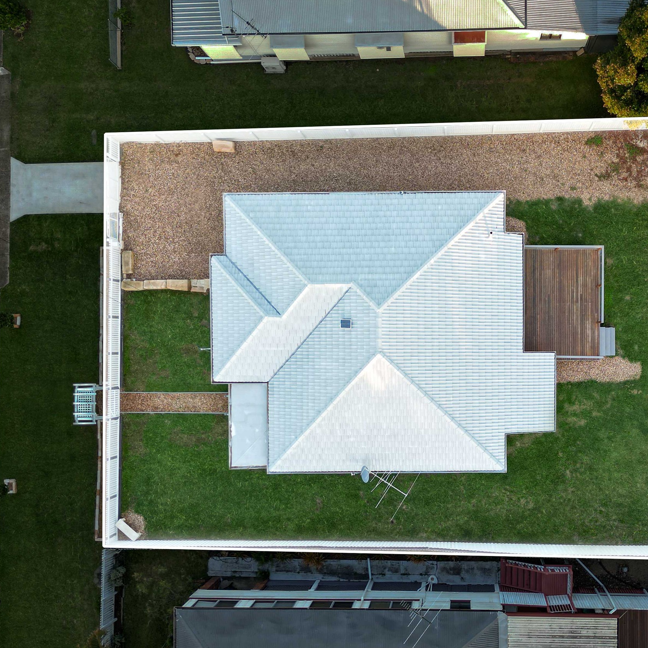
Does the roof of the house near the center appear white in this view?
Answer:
Yes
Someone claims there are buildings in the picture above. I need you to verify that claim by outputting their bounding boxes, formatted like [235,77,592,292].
[171,0,648,64]
[208,190,558,475]
[173,558,507,648]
